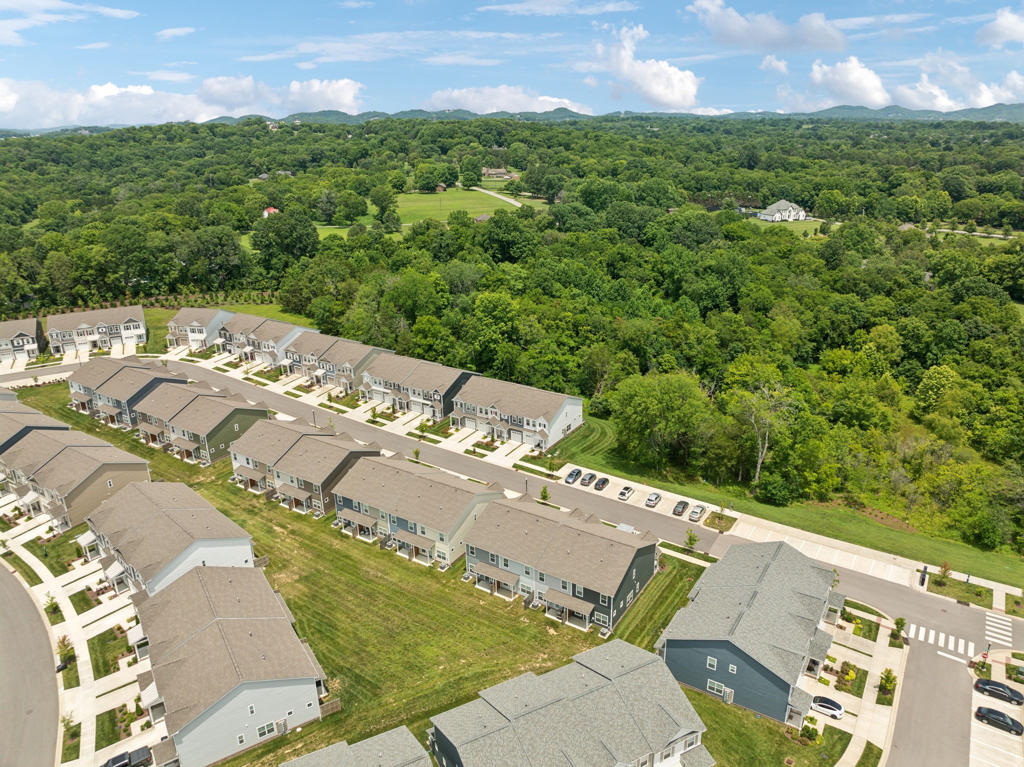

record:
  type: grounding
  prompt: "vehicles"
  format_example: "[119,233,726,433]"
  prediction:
[672,502,690,517]
[591,480,608,493]
[92,741,154,767]
[687,506,704,521]
[973,705,1024,735]
[566,472,585,486]
[974,677,1023,705]
[809,695,852,722]
[617,487,635,501]
[645,495,662,508]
